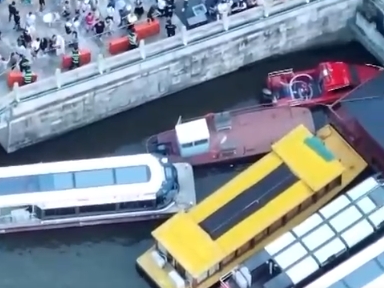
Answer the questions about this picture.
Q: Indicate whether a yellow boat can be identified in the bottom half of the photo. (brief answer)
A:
Yes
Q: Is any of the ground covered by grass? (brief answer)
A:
No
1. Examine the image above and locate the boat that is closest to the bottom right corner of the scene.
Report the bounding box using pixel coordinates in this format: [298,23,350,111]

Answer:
[308,234,384,288]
